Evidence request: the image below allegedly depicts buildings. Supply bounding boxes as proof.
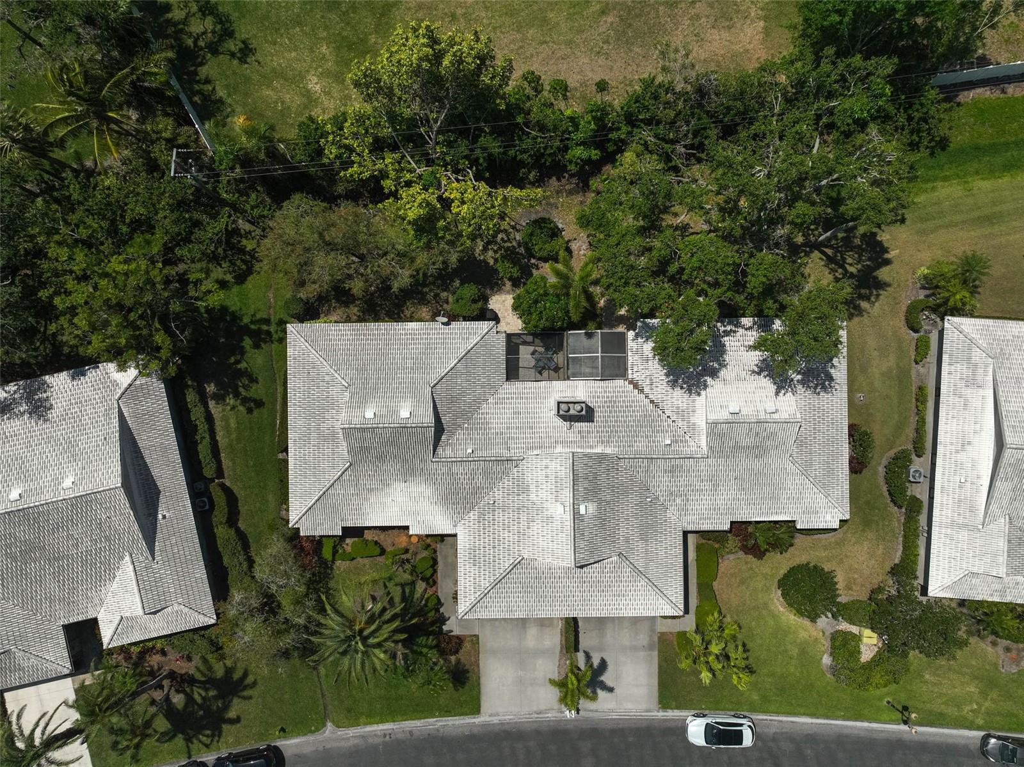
[0,356,228,690]
[917,316,1024,604]
[286,317,850,619]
